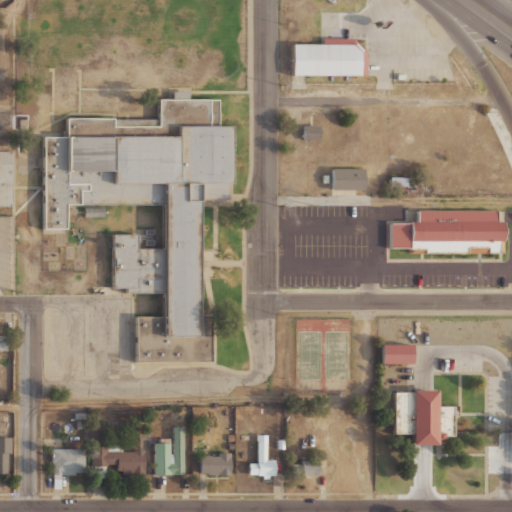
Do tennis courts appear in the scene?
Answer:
Yes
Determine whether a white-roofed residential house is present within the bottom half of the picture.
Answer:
Yes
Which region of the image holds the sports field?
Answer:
top left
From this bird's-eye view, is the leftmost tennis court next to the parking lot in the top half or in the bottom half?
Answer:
bottom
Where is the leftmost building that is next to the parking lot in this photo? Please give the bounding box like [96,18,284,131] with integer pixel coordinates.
[42,91,236,362]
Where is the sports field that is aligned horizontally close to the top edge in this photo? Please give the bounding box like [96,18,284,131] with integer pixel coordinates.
[31,0,243,88]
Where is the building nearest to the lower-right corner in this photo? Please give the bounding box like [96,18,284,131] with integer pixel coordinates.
[394,392,458,446]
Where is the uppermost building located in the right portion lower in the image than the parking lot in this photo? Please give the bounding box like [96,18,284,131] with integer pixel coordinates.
[384,344,418,365]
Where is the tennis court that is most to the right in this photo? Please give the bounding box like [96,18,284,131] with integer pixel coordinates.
[324,319,350,390]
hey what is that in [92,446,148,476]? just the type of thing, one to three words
house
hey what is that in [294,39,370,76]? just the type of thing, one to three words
building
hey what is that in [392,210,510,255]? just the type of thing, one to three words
building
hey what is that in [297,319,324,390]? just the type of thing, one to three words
tennis court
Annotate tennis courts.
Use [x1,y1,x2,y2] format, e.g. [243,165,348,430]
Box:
[324,319,350,390]
[297,319,324,390]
